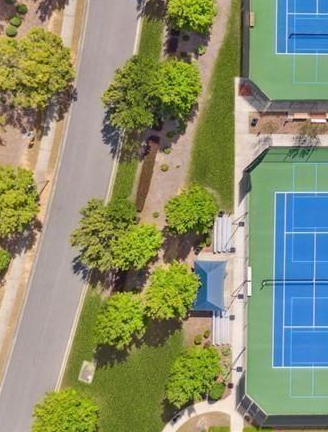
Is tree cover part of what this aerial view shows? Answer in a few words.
Yes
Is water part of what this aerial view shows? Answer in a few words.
No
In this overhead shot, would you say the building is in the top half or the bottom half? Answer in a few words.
bottom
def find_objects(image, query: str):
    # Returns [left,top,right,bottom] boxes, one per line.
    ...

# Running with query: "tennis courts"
[276,0,328,83]
[273,164,328,397]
